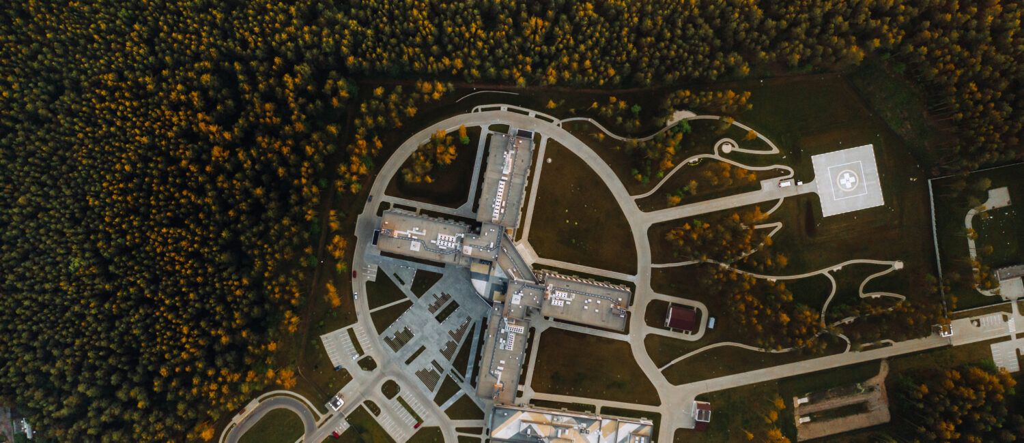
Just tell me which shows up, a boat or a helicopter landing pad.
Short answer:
helicopter landing pad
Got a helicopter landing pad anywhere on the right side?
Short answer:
Yes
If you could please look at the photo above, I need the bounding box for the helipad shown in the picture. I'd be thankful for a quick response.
[813,144,883,216]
